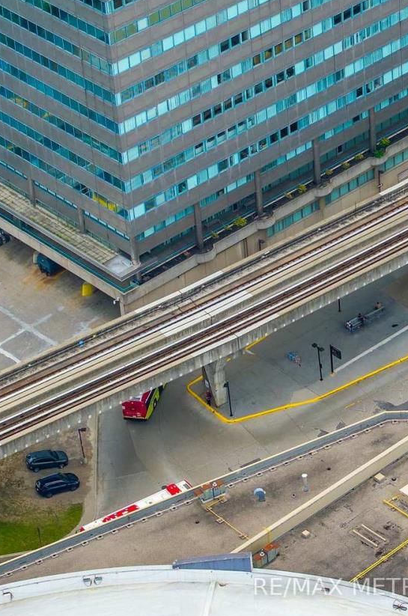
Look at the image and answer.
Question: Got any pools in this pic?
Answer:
No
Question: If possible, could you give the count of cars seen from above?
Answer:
two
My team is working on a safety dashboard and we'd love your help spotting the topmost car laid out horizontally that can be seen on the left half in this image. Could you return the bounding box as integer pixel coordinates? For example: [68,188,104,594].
[23,447,70,471]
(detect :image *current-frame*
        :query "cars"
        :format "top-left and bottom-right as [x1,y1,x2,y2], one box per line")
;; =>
[23,447,70,471]
[34,472,81,497]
